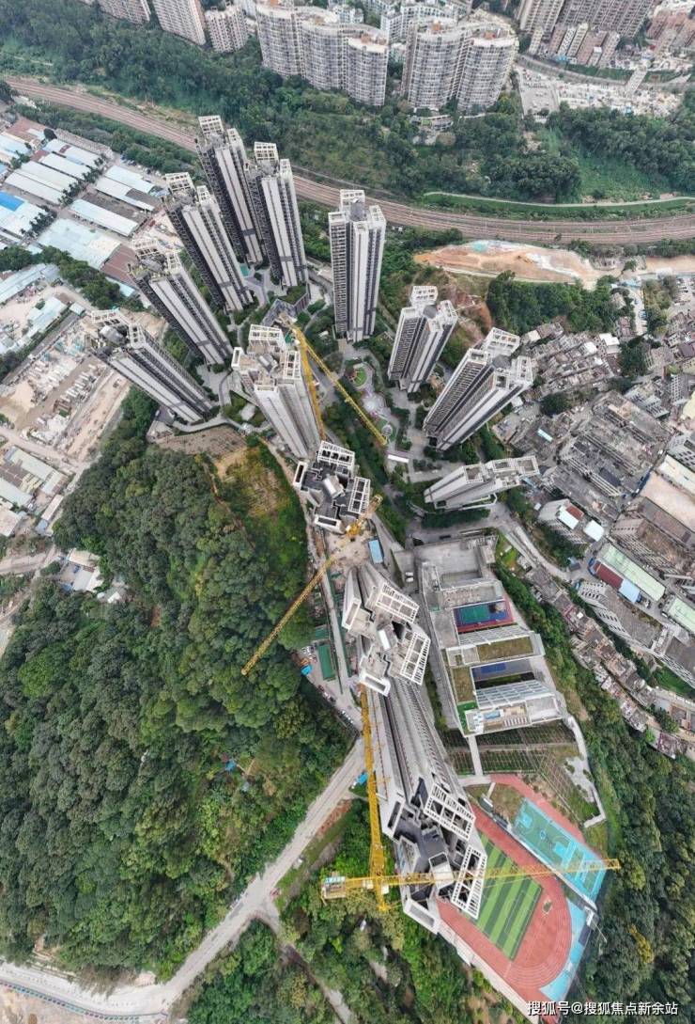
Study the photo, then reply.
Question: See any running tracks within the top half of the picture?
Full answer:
No, looking within the top half of the picture, there is no running track.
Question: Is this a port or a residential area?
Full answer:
The area seen from above is a residential area.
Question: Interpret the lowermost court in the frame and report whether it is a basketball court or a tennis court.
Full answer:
What you see as the lowermost court is a basketball court.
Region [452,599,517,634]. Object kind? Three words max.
sports court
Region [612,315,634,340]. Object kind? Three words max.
house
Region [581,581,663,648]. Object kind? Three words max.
building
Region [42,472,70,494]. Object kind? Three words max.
shed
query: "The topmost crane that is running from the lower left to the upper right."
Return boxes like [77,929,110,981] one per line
[242,493,381,675]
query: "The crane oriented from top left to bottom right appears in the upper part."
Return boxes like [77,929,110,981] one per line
[281,305,389,447]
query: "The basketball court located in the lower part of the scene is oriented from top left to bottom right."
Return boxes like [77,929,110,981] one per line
[513,798,606,906]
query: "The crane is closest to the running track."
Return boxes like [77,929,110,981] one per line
[324,685,622,910]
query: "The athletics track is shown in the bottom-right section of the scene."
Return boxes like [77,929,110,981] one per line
[454,773,577,1005]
